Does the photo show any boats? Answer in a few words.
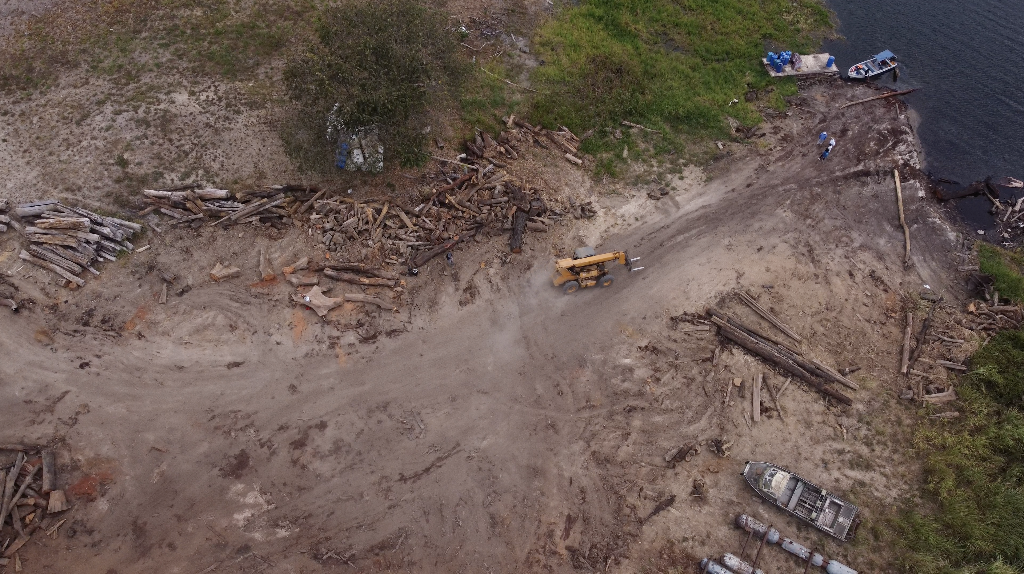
Yes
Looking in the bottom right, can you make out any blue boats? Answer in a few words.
No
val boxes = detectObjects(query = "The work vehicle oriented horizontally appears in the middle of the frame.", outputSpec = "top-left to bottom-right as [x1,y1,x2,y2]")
[552,248,645,297]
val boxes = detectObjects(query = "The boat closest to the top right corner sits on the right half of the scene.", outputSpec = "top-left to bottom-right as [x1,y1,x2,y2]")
[847,48,901,77]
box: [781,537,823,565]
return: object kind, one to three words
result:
storage tank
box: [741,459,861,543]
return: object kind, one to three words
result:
boat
